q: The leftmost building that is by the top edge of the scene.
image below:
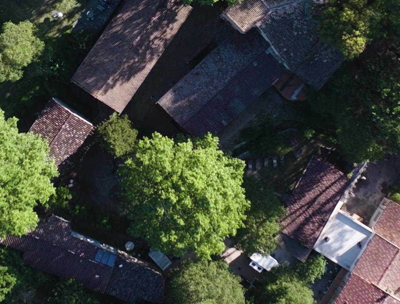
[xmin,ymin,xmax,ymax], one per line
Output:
[76,0,192,114]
